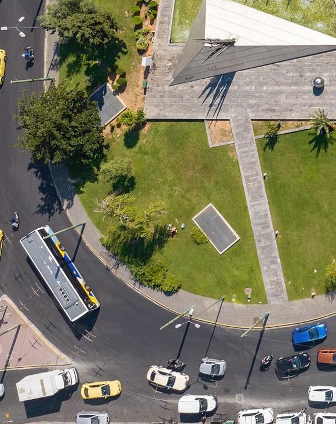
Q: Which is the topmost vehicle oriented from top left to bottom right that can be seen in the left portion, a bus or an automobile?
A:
bus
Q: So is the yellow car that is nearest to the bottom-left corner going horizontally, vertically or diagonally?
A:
horizontally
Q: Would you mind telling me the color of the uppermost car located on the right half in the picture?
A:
blue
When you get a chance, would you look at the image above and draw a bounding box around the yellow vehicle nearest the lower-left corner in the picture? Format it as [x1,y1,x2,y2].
[81,378,124,399]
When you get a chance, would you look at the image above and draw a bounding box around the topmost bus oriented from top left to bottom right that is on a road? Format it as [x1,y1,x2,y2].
[24,225,105,324]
